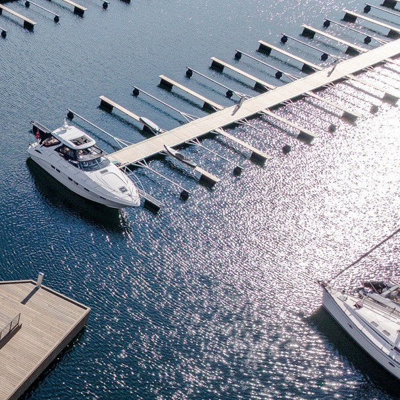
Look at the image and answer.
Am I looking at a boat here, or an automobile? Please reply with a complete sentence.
It is a boat that can be seen here.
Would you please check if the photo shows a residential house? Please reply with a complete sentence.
No, no residential house can be seen from above.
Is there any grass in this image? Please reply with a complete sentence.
No, the scene doesn't show any grass.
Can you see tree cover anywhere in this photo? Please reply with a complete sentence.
No, the picture contains no tree cover.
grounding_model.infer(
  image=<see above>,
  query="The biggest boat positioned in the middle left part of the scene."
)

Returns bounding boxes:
[21,121,145,205]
